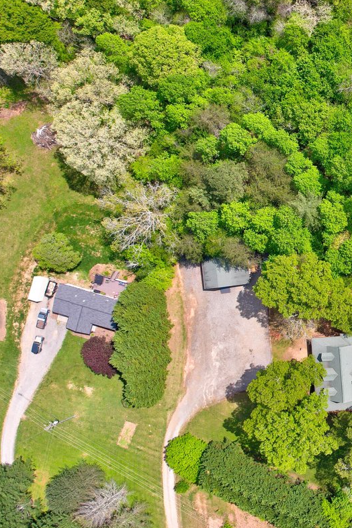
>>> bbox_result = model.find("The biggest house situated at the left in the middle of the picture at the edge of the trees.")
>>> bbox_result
[53,282,125,335]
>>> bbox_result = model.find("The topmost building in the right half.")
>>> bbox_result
[201,255,251,289]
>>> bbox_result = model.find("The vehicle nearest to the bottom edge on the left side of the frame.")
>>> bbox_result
[32,335,45,354]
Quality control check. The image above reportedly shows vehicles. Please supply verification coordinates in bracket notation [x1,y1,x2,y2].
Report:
[37,307,50,330]
[32,335,45,354]
[45,280,59,298]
